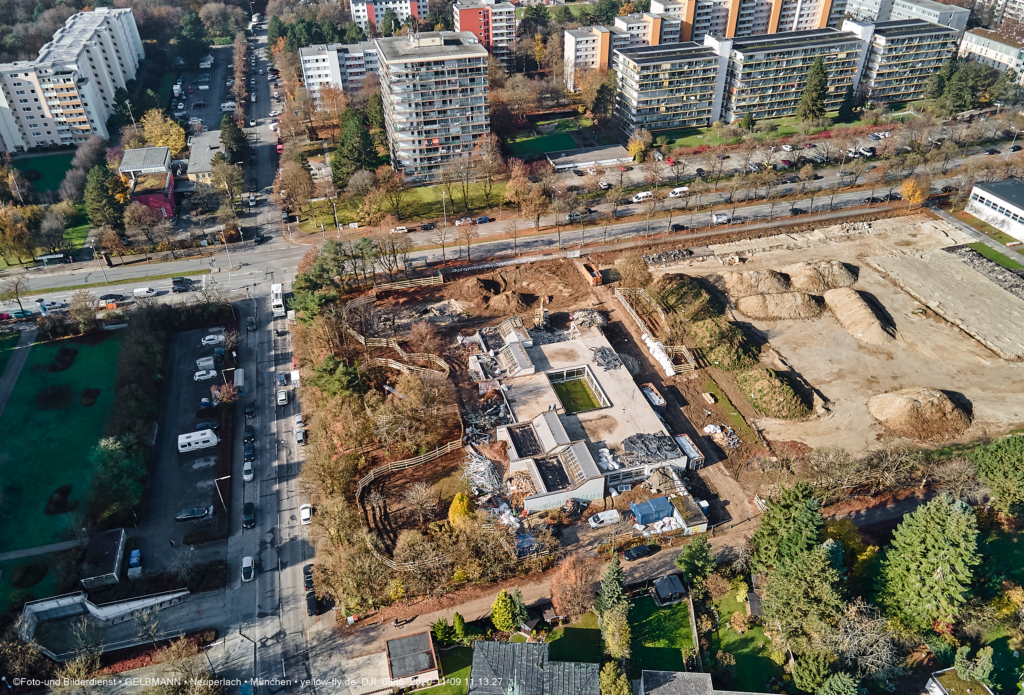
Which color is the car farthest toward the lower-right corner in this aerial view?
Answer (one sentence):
In this view, the car farthest toward the lower-right corner is black.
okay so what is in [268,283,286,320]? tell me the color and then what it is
white vehicle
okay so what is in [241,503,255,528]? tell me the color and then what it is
black car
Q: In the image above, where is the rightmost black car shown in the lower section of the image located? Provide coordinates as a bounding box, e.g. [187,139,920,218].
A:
[623,542,651,565]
